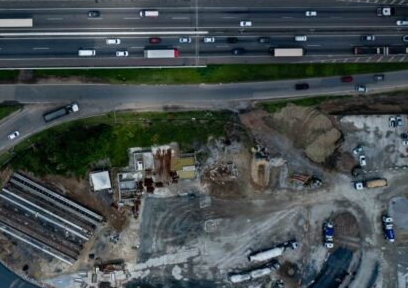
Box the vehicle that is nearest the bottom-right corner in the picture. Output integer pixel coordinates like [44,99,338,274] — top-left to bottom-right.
[380,214,396,244]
